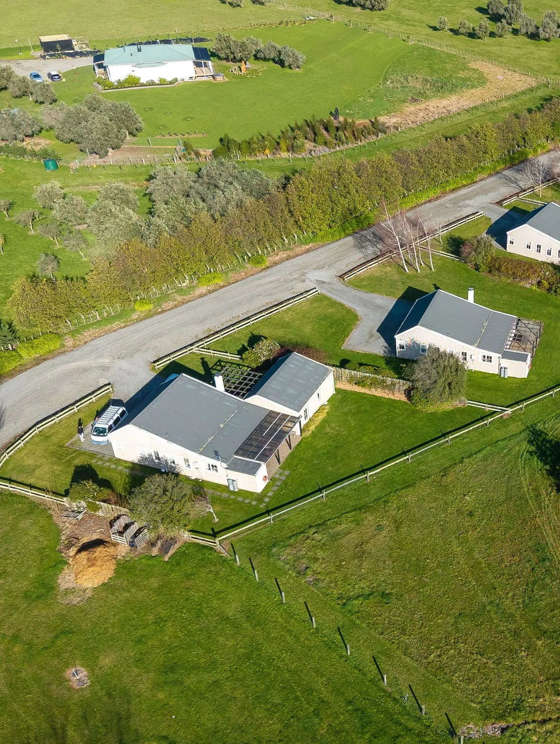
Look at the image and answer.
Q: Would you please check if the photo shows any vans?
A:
Yes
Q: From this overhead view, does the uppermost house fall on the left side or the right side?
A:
left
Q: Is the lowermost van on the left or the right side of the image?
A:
left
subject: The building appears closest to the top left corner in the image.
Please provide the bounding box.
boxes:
[94,43,215,82]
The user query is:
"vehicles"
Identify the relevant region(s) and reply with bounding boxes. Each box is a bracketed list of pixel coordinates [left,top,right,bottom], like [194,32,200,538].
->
[31,69,43,81]
[89,403,128,445]
[47,69,60,81]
